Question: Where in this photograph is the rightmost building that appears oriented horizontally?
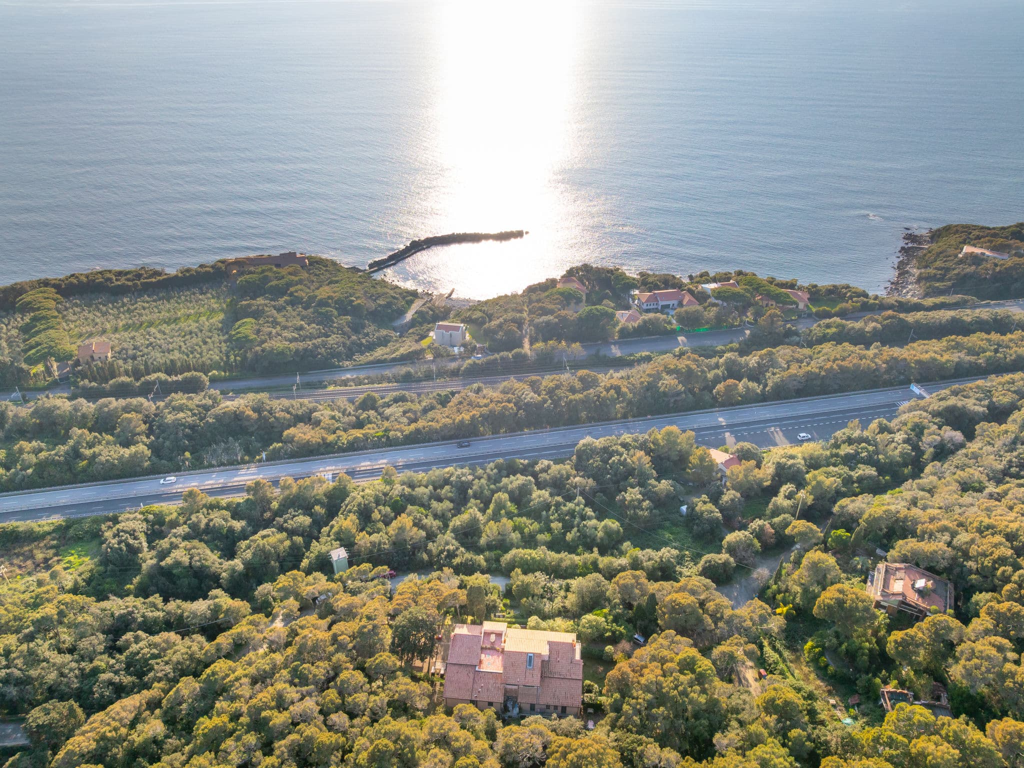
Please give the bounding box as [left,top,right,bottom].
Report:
[958,243,1014,262]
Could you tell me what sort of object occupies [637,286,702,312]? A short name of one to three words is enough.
house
